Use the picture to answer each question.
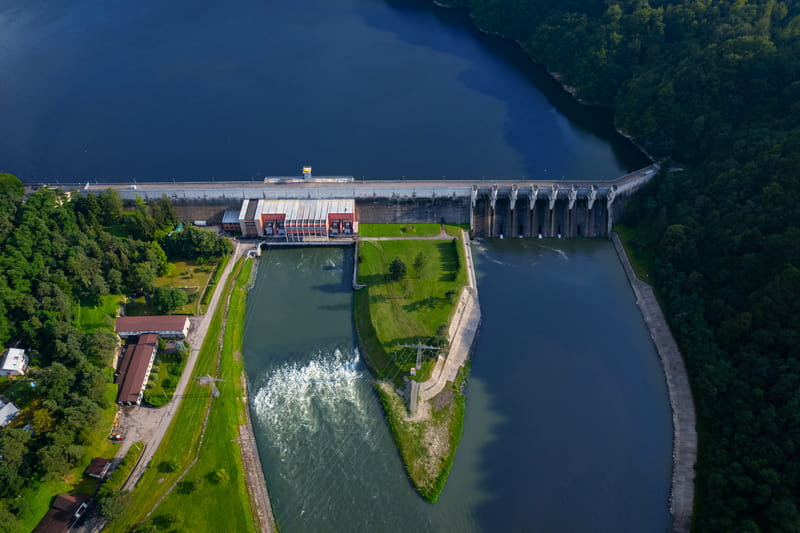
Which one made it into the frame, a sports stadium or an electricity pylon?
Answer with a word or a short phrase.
electricity pylon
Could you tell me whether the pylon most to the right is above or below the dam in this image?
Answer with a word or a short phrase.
below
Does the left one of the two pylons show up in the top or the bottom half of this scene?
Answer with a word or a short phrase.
bottom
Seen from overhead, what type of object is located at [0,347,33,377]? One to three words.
house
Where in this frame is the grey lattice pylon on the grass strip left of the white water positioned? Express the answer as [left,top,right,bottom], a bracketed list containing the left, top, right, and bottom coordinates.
[192,374,227,398]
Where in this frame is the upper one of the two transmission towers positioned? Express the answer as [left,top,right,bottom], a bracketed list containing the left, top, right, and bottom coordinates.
[397,342,442,372]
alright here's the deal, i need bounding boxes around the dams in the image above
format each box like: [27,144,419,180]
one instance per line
[2,158,661,241]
